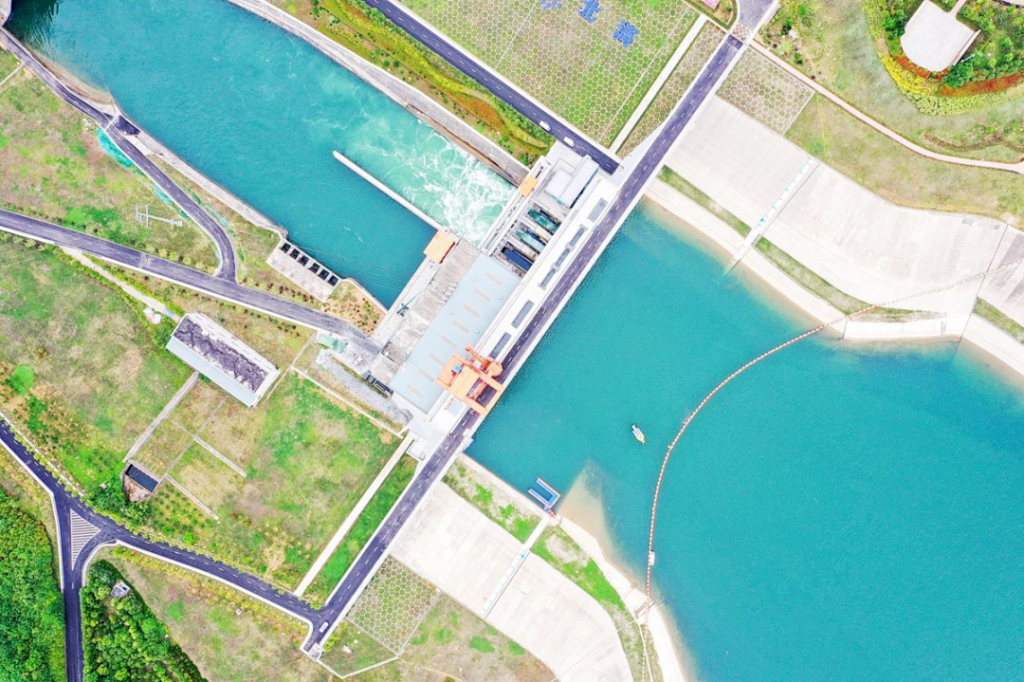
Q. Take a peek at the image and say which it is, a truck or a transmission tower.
transmission tower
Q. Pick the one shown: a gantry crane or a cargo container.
gantry crane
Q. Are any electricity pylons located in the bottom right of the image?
No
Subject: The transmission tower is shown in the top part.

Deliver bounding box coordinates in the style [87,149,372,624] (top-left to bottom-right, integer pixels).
[137,200,183,226]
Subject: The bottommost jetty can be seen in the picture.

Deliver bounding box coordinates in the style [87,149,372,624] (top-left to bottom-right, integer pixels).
[528,478,561,518]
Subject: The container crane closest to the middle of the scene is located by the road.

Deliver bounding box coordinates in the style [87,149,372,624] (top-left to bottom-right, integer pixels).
[435,345,506,416]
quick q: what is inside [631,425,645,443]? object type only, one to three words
boat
